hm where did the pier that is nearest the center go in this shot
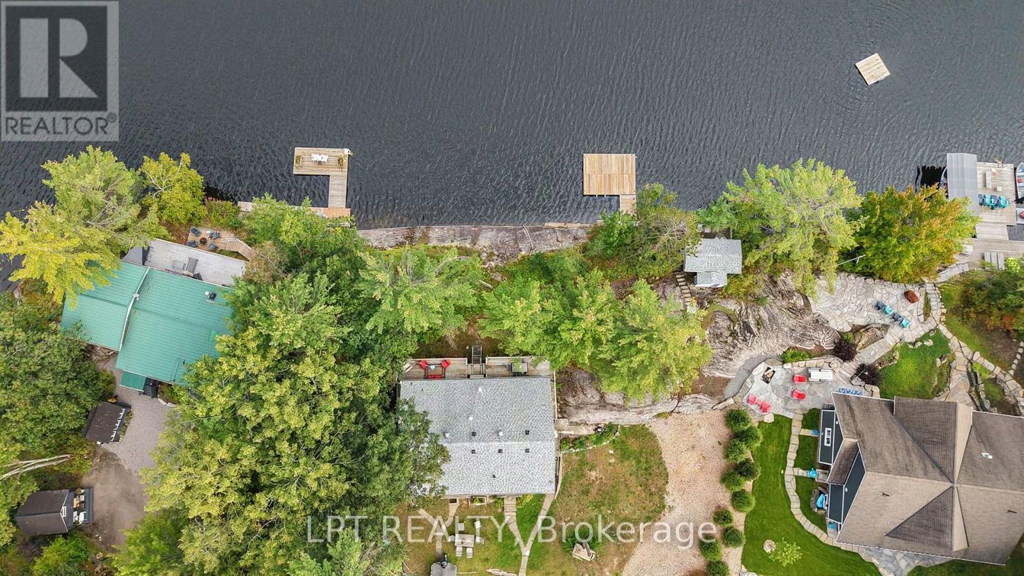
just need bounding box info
[583,153,637,220]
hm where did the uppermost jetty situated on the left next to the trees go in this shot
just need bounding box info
[294,147,349,208]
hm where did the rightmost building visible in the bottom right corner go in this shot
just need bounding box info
[812,389,1024,561]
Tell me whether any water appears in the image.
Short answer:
Yes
